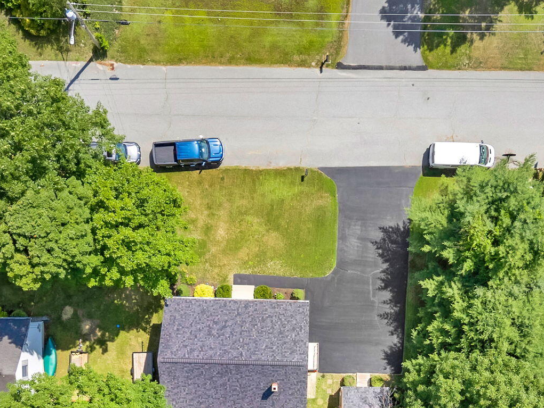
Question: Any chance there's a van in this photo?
Yes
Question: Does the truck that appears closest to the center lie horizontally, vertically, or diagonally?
horizontally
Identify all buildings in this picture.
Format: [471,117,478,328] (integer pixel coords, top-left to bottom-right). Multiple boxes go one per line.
[158,296,309,408]
[341,387,393,408]
[0,316,51,405]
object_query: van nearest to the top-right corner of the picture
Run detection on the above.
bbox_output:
[429,141,493,172]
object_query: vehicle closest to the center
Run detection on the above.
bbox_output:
[154,137,225,170]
